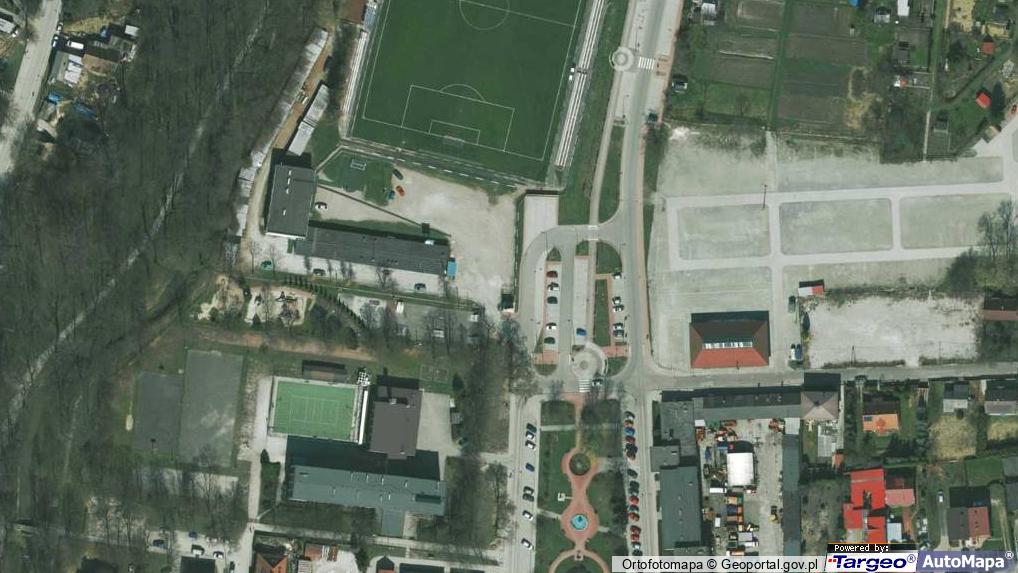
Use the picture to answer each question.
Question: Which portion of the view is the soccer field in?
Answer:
top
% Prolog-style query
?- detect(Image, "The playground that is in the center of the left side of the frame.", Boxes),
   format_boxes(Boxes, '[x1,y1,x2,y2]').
[247,286,307,328]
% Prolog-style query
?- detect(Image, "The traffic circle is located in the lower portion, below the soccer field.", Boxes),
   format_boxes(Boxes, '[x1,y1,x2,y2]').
[572,343,606,380]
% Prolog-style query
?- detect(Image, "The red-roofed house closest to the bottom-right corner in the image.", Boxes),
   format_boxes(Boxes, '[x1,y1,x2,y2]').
[968,507,990,539]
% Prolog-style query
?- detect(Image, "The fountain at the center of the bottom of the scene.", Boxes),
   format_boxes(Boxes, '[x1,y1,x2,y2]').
[571,514,589,532]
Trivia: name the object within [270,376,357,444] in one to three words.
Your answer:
sports court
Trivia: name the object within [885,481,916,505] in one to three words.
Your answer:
house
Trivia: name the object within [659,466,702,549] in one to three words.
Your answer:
building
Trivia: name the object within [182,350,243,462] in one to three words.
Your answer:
sports court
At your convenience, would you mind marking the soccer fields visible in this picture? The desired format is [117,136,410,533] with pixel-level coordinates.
[351,0,588,180]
